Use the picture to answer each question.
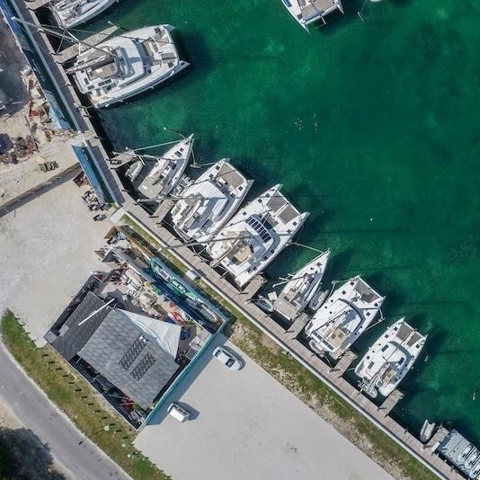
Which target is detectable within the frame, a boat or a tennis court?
boat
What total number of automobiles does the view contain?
2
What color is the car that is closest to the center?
white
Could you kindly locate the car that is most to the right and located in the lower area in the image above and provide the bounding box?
[213,345,242,372]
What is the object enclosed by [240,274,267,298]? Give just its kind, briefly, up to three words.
pier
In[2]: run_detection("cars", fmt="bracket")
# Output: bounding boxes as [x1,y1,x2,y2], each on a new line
[165,402,192,424]
[213,345,242,372]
